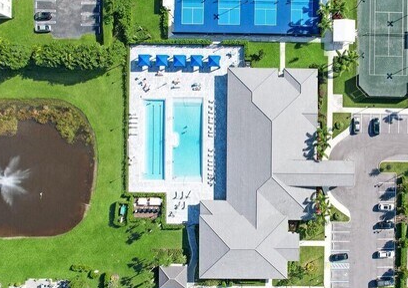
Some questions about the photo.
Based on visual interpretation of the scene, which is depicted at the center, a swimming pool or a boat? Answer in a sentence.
There is a swimming pool at the center.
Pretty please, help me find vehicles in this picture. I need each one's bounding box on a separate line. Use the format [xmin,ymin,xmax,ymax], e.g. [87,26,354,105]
[376,204,393,211]
[377,251,393,259]
[36,12,53,20]
[371,118,379,134]
[376,221,392,230]
[34,24,52,32]
[353,116,360,133]
[331,252,347,261]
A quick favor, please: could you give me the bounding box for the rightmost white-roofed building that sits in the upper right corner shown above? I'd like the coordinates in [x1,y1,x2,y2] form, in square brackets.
[332,18,355,43]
